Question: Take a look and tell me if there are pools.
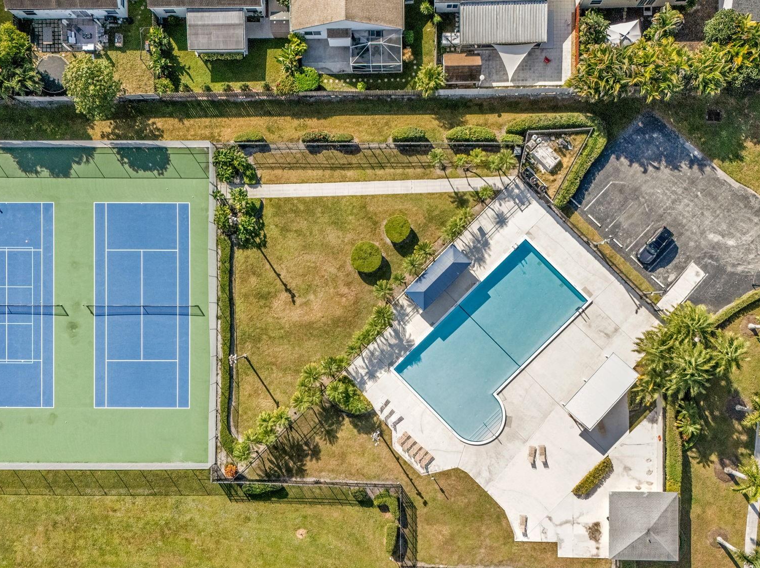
Yes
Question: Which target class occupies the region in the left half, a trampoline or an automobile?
trampoline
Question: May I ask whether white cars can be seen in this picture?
No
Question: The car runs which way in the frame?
diagonally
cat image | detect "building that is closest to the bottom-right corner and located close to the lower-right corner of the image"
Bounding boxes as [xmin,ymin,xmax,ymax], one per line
[606,490,679,561]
